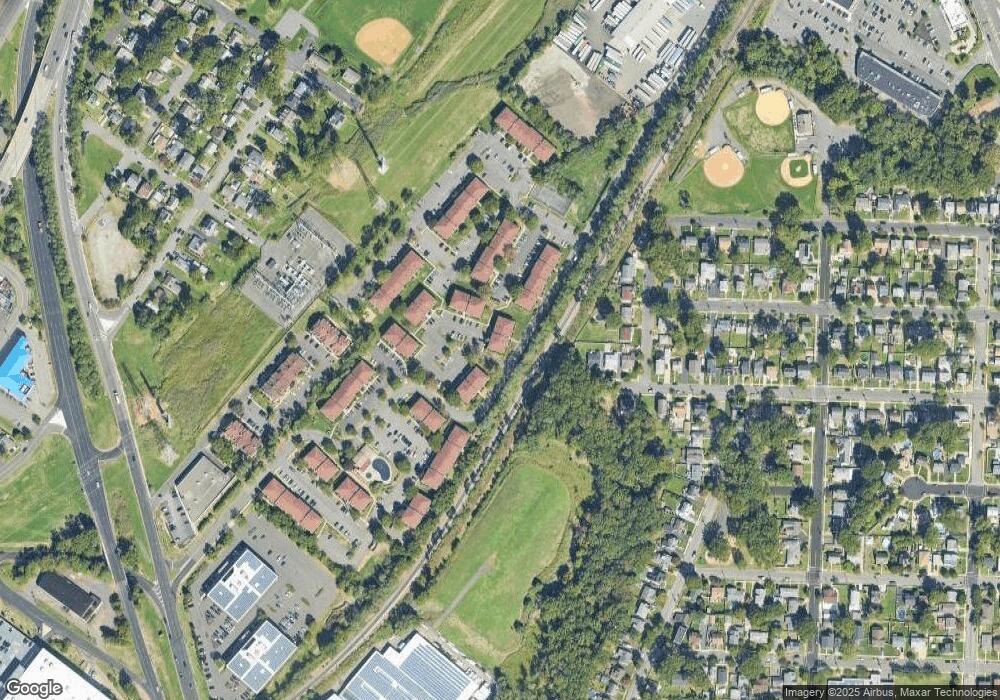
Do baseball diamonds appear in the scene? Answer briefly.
Yes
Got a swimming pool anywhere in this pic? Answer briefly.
Yes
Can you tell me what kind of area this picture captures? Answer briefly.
residential area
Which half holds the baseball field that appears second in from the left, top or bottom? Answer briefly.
top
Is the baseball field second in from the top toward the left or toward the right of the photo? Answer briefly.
right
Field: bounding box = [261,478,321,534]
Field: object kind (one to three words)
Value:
building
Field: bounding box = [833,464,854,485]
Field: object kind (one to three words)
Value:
house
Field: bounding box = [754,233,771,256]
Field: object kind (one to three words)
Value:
house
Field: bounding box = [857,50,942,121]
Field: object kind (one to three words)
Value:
building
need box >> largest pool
[362,455,393,482]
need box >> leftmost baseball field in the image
[356,17,412,68]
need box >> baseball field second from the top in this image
[757,89,790,127]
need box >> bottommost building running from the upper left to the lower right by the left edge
[36,571,100,620]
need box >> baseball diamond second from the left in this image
[704,145,744,187]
